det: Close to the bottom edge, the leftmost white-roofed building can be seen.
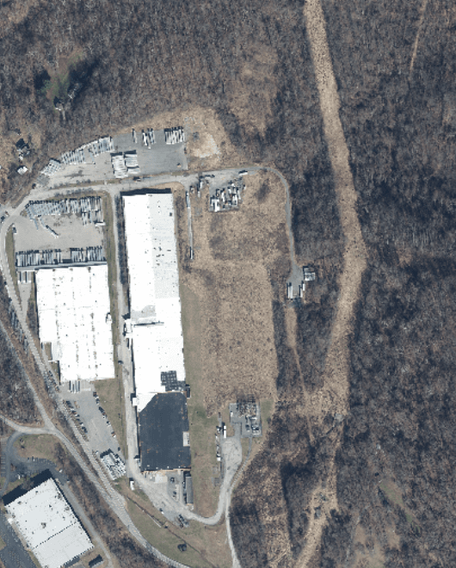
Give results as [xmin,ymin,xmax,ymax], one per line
[4,478,94,568]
